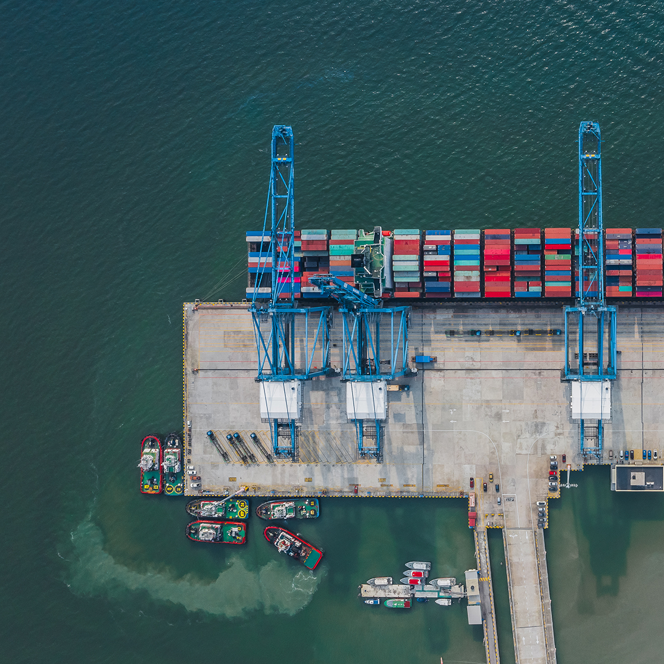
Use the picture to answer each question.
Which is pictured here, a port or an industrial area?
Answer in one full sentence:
The area seen from above is a port.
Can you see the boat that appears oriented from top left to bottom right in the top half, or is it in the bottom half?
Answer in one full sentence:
You can find the boat that appears oriented from top left to bottom right in the bottom half.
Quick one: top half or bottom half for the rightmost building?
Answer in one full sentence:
Seen from above, the rightmost building lies in the bottom half of the view.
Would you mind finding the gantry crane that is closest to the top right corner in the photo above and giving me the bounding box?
[557,123,620,458]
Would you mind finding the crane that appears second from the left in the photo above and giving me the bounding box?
[308,273,417,458]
